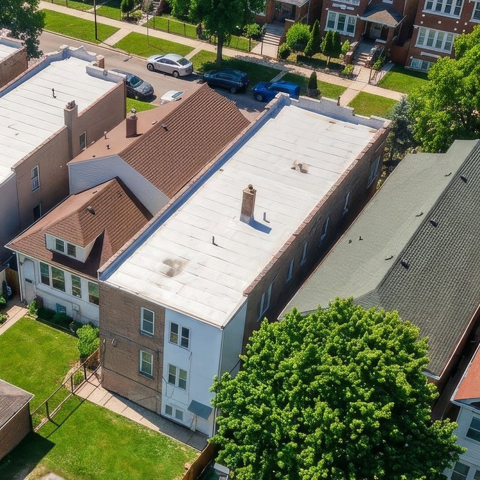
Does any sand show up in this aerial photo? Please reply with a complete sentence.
No, there is no sand in the image.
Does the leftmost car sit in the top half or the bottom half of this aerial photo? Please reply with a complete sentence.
The leftmost car is in the top half of the image.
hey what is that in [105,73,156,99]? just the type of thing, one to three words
car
